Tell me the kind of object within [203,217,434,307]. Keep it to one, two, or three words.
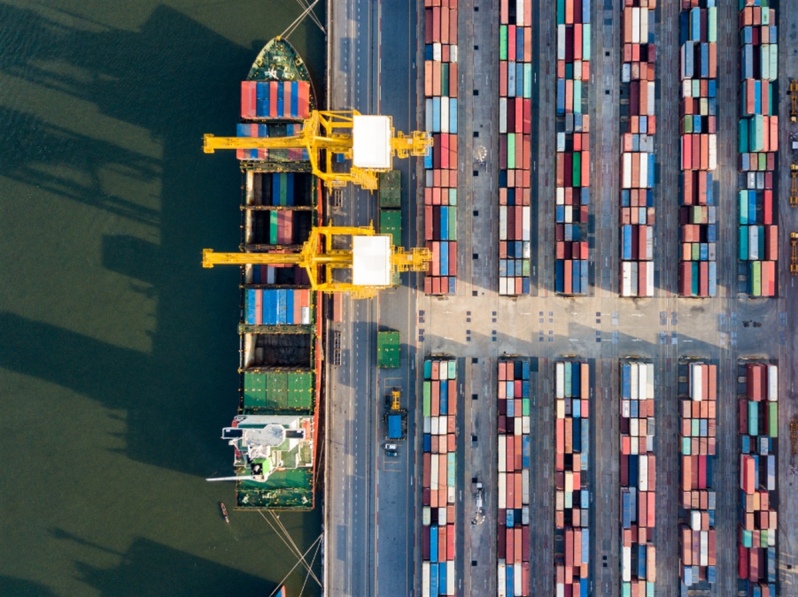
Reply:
container crane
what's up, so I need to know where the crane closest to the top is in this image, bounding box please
[203,108,434,198]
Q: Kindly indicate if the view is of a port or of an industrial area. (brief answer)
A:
port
